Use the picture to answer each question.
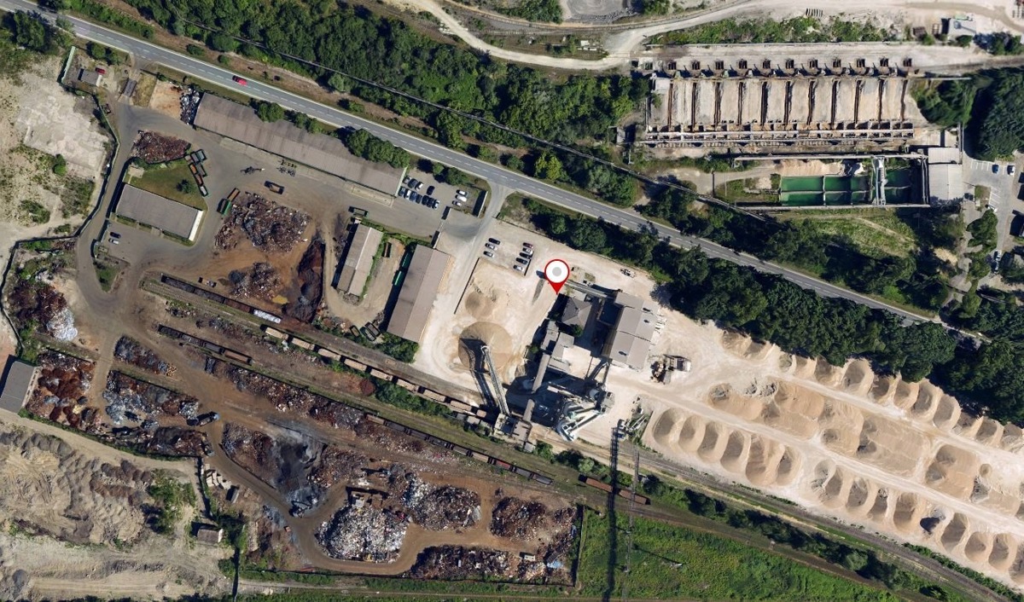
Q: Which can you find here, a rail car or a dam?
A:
rail car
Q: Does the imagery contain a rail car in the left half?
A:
Yes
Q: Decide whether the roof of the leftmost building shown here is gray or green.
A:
gray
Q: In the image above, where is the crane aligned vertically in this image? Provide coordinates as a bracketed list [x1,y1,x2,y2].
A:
[872,157,888,206]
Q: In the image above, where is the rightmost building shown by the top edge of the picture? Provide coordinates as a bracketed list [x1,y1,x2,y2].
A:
[943,13,976,36]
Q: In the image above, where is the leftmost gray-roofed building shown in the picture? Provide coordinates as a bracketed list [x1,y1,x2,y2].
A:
[0,359,41,414]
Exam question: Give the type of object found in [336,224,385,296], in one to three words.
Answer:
shed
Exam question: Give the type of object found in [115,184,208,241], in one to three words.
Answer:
building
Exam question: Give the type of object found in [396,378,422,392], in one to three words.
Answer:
rail car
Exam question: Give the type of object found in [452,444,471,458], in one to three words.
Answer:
rail car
